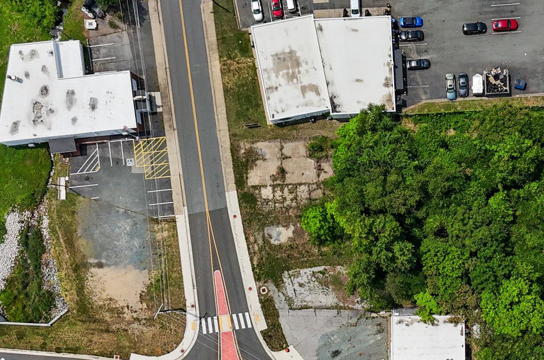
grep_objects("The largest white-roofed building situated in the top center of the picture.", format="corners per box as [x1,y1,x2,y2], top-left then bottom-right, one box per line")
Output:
[250,14,396,127]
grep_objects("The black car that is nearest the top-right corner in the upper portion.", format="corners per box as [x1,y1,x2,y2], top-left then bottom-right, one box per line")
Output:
[462,20,486,33]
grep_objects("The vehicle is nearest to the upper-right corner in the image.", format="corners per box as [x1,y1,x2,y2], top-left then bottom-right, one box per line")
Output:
[492,17,519,31]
